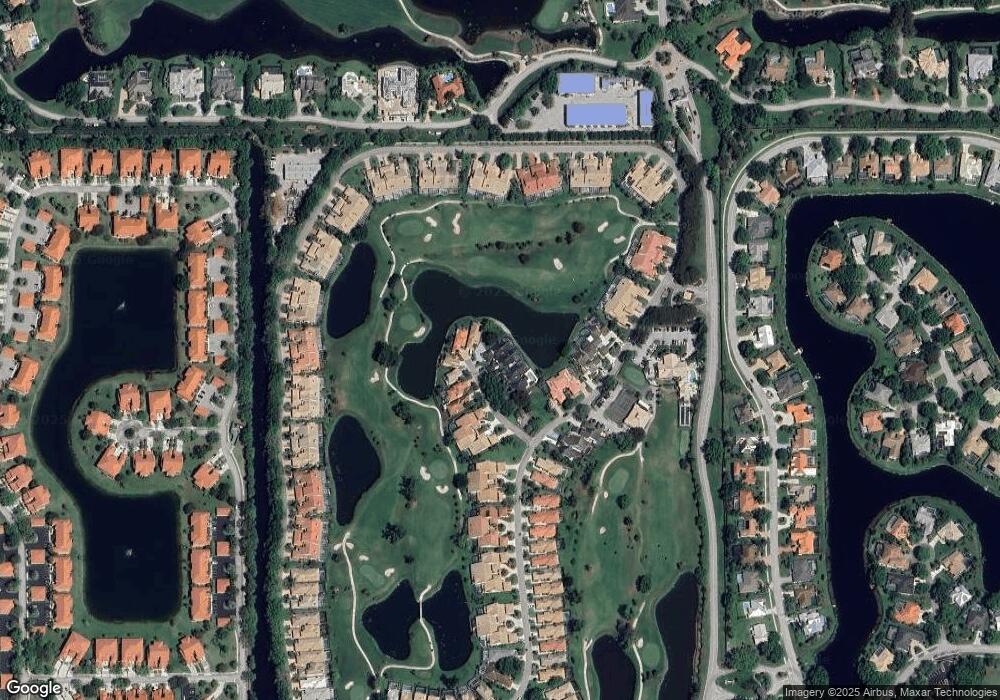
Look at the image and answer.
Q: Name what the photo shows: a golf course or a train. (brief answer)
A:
golf course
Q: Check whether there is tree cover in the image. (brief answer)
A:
Yes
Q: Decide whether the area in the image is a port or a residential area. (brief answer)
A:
residential area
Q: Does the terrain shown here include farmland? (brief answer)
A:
No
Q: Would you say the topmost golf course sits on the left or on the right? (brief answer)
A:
left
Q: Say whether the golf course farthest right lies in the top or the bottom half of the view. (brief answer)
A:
bottom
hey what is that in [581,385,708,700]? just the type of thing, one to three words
golf course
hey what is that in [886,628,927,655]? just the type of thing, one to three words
house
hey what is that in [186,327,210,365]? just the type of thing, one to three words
building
